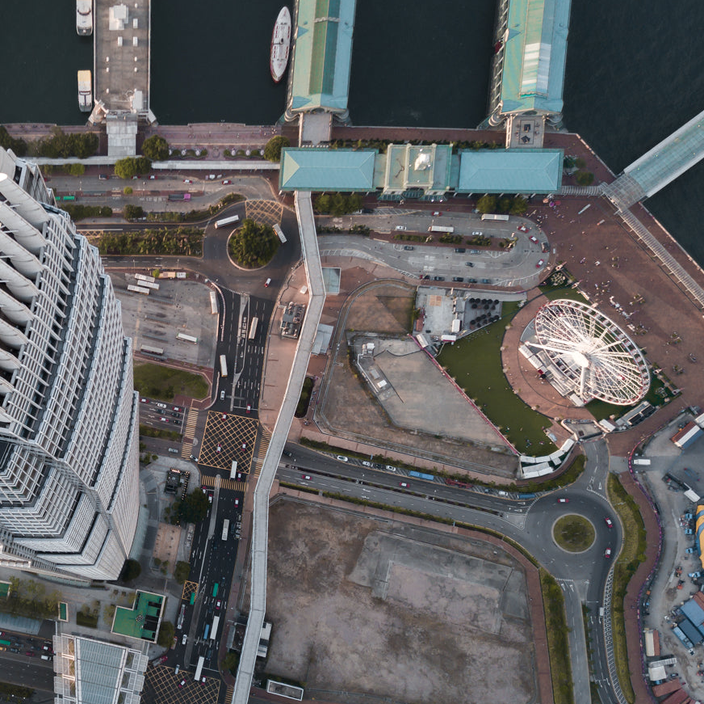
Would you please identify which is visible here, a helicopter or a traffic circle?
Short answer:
traffic circle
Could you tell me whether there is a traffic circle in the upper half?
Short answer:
Yes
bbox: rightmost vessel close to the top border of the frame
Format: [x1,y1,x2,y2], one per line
[269,8,290,90]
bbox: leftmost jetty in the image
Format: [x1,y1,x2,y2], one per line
[86,0,157,142]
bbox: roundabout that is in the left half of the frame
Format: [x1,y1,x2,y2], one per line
[226,217,280,271]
